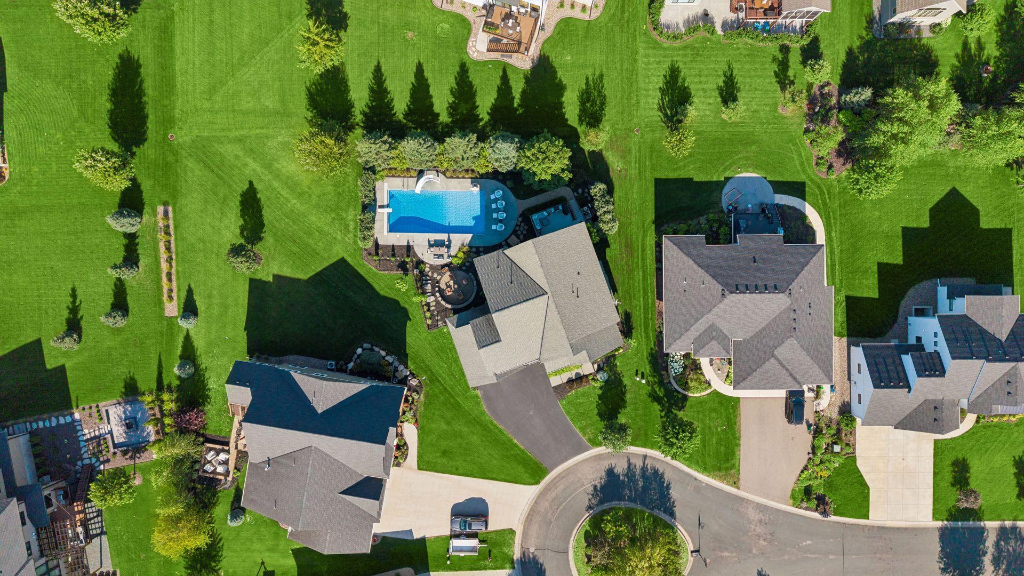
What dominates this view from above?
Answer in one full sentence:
The bulk of the photo consists of grass.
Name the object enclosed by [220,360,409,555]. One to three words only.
house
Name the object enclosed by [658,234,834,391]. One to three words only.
house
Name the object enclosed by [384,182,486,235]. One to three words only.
swimming pool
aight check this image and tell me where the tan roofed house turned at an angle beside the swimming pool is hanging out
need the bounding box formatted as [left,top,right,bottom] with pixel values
[446,221,623,388]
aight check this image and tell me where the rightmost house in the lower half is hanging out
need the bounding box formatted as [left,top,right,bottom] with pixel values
[849,284,1024,435]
